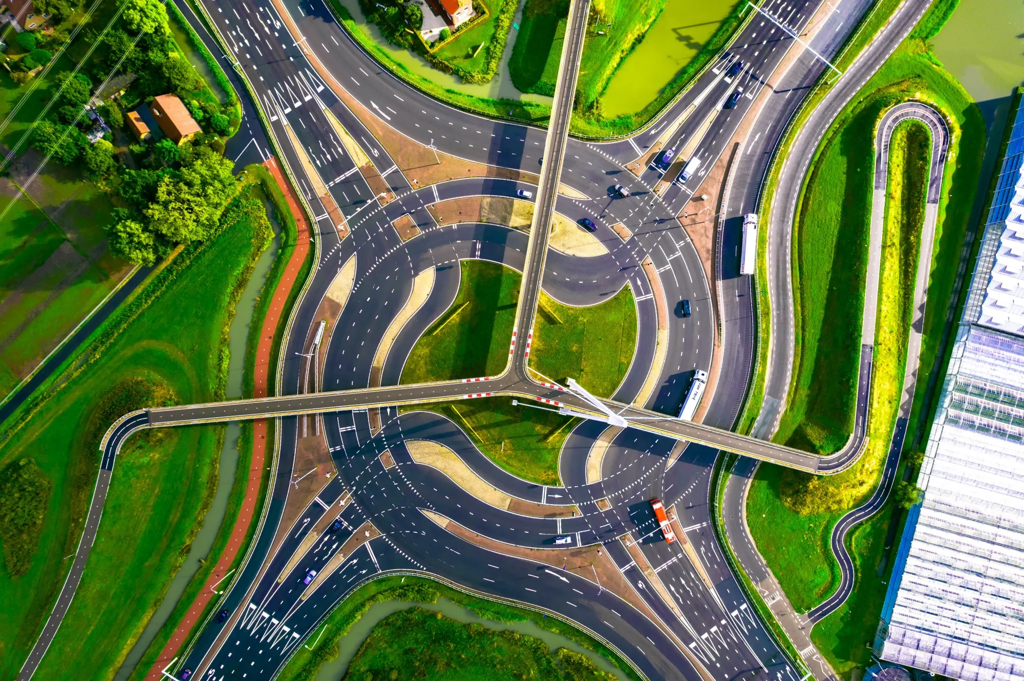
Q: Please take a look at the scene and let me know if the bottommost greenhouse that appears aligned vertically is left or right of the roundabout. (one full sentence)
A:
The bottommost greenhouse that appears aligned vertically can be seen on the right of the roundabout.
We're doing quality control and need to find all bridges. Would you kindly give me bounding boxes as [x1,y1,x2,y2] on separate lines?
[147,0,822,474]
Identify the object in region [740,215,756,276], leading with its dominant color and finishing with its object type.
white vehicle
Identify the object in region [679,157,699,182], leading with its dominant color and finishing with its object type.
white vehicle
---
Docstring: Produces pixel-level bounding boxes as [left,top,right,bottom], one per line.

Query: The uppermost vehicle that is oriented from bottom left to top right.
[728,59,743,77]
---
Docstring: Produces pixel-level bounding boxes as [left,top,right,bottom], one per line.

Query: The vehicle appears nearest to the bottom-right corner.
[651,497,676,544]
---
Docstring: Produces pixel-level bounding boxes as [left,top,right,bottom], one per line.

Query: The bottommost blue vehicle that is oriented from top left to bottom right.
[581,218,597,231]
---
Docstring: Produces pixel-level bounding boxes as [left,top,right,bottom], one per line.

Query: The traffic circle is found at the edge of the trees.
[190,0,861,681]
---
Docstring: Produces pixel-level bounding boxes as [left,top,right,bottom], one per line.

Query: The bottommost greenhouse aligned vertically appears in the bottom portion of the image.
[878,323,1024,657]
